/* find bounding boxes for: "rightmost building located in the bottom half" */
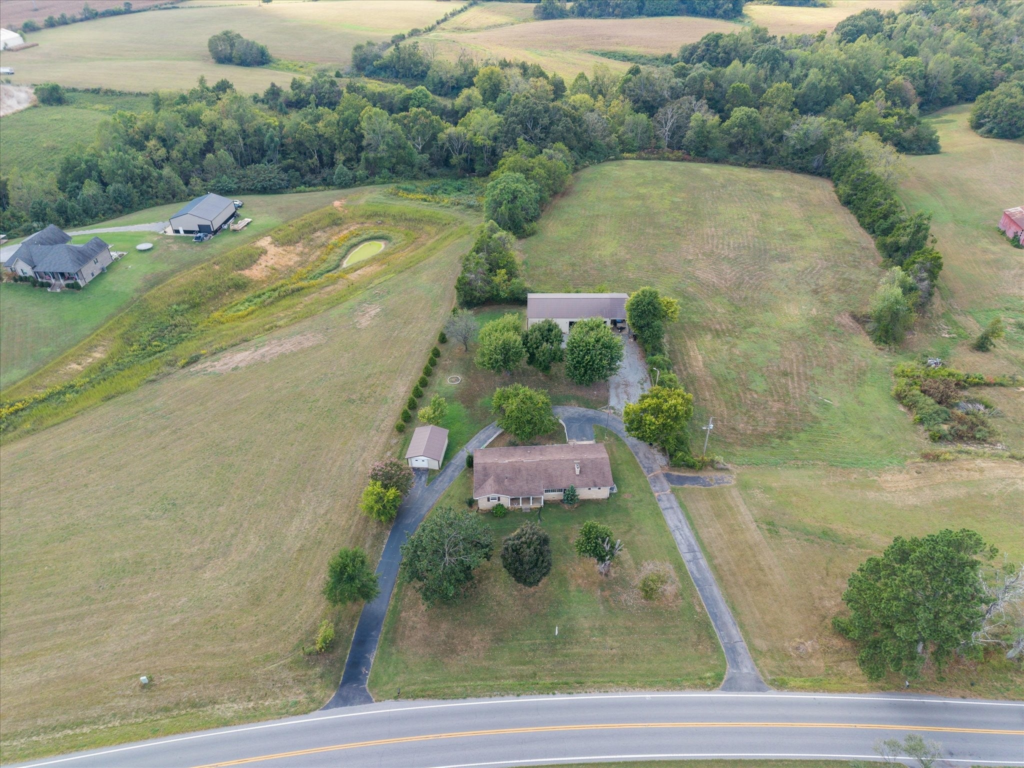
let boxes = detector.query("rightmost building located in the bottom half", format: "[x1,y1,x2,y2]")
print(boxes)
[473,444,619,510]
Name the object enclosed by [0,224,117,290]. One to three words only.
house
